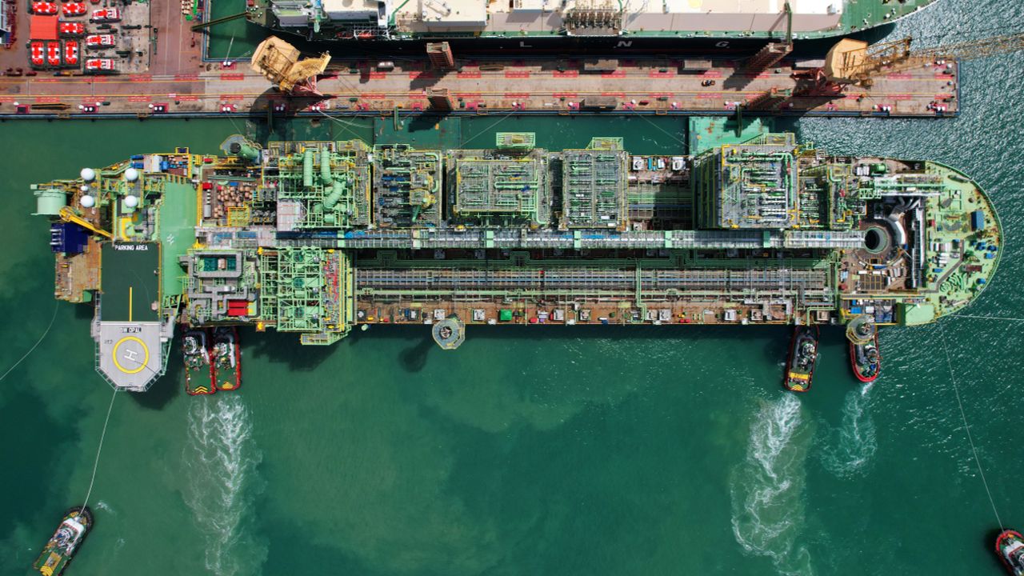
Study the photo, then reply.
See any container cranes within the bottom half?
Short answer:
No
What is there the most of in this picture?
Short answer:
water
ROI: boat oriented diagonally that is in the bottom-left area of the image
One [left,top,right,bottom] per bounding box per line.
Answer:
[29,506,95,576]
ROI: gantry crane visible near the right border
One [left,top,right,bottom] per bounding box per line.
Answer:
[788,32,1024,99]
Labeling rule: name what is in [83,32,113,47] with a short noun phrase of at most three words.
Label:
boat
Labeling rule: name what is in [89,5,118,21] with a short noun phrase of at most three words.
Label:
boat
